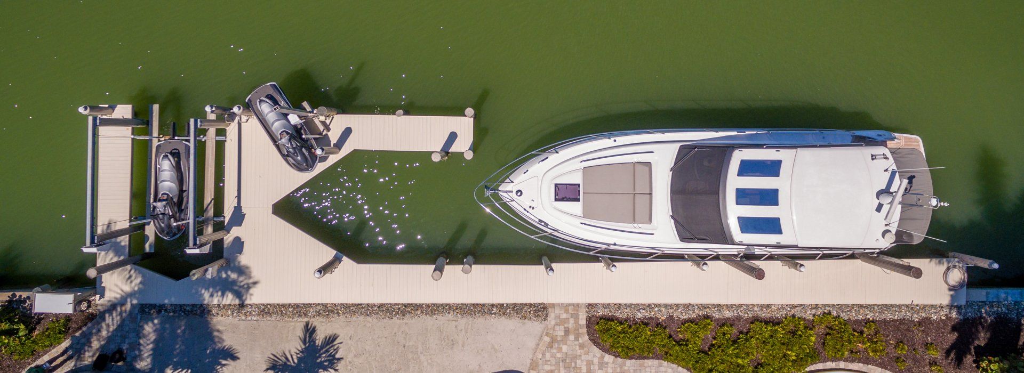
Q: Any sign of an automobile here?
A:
No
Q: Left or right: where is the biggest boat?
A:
right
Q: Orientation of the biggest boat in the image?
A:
from side to side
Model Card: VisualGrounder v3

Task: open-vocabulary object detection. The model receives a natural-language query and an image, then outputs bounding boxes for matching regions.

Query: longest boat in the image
[474,127,949,261]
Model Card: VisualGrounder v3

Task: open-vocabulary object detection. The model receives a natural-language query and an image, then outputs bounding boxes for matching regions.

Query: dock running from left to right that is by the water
[97,105,966,304]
